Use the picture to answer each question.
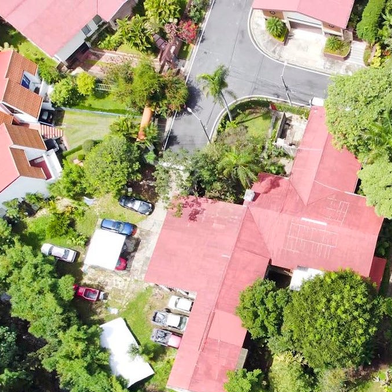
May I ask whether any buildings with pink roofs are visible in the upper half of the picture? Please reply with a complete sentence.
Yes, there is a building with a pink roof in the upper half of the picture.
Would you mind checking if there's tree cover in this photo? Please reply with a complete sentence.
Yes, tree cover shows up in the scene.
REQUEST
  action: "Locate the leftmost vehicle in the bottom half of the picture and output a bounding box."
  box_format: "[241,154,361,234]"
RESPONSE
[42,244,78,262]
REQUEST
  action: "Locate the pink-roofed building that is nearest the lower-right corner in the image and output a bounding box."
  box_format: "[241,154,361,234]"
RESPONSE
[144,106,387,392]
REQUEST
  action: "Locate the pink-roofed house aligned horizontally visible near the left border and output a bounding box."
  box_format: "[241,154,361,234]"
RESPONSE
[0,0,150,70]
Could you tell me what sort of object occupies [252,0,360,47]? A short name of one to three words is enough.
house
